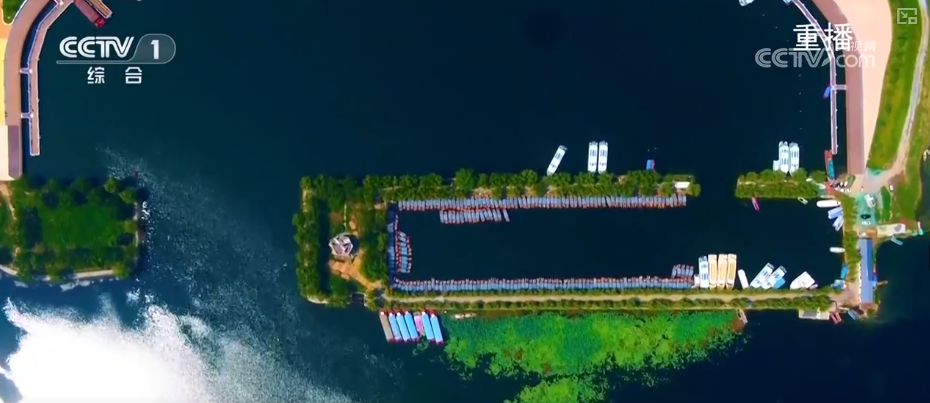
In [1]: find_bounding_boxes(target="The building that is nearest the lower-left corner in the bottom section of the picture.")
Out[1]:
[330,233,354,257]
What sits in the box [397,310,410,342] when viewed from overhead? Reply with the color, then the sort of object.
blue boat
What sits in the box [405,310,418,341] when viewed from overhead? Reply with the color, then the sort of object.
blue boat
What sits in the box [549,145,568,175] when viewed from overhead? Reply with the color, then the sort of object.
white ship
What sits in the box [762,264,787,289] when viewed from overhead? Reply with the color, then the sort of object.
white ship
